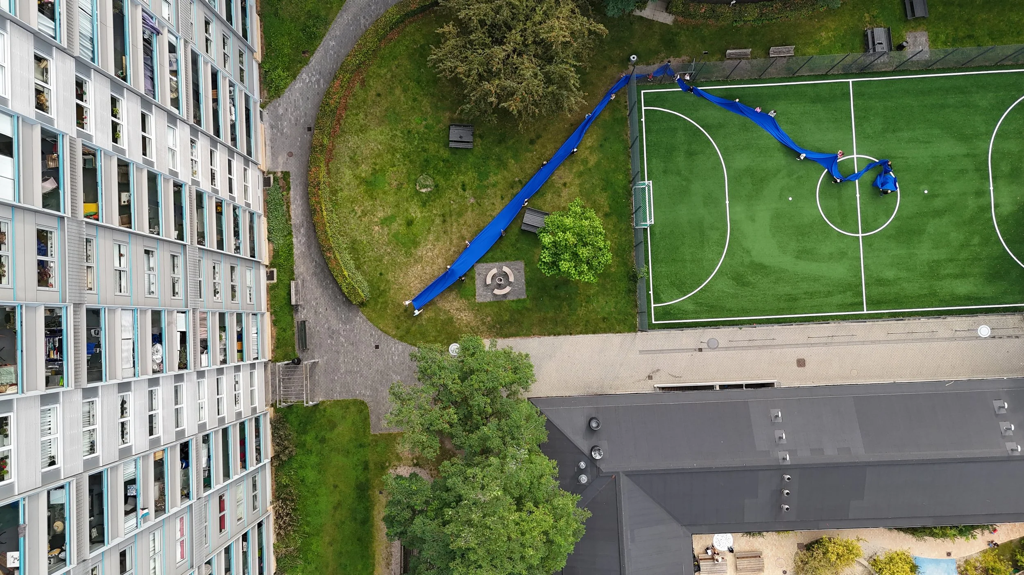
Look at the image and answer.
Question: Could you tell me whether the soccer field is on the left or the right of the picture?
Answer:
right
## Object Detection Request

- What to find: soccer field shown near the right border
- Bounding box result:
[626,61,1024,331]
